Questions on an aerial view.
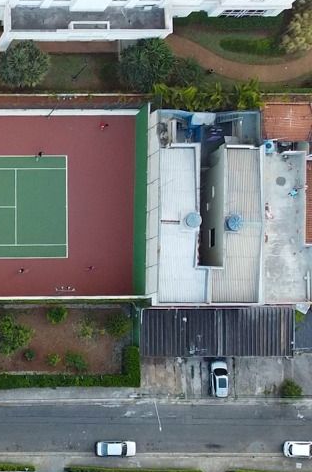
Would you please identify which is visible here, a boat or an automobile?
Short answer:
automobile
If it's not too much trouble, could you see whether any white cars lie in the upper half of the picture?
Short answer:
No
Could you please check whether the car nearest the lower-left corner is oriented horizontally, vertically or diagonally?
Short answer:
horizontally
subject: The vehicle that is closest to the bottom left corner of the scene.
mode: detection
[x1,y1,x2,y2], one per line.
[95,439,135,459]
